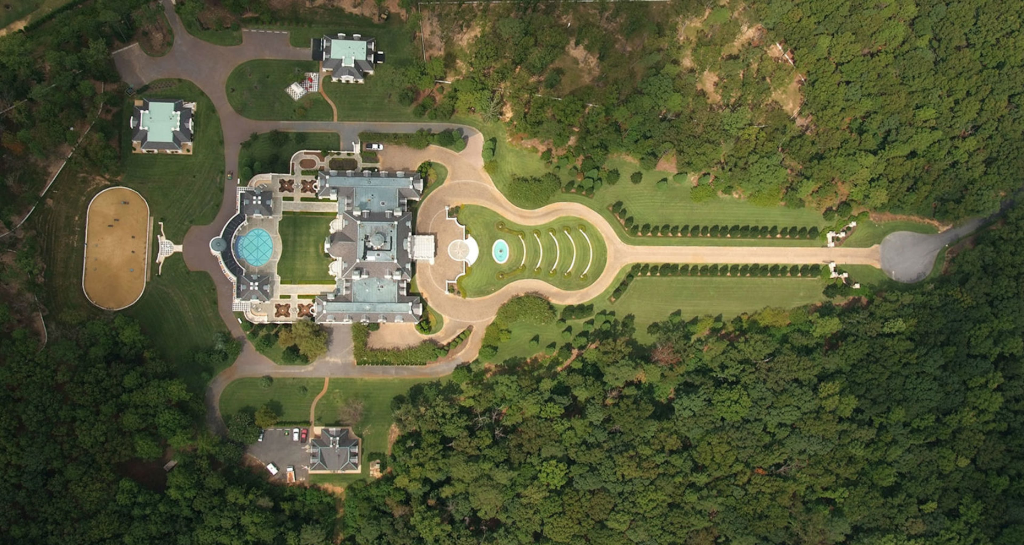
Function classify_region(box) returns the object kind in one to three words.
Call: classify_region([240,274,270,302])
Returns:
building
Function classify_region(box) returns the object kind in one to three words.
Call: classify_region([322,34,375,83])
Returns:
house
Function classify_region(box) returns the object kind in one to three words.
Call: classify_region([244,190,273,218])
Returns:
building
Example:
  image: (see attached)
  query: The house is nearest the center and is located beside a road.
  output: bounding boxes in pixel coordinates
[309,171,436,325]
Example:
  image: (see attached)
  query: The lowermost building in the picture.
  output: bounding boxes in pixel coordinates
[308,427,362,475]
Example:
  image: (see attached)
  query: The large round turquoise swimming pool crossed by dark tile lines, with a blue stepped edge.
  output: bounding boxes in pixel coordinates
[235,227,273,267]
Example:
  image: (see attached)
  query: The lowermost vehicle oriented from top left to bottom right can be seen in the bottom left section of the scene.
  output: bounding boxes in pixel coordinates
[266,461,279,477]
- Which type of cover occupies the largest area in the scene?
trees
